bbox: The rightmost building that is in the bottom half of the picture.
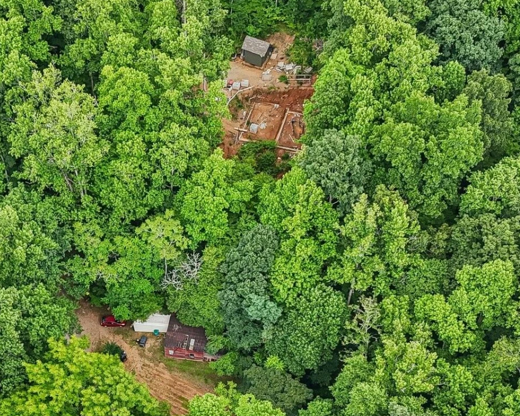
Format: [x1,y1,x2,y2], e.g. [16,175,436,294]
[163,313,208,359]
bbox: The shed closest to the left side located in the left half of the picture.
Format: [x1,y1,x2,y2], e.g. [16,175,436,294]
[132,309,167,332]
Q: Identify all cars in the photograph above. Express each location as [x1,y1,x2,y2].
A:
[113,342,126,363]
[100,314,125,326]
